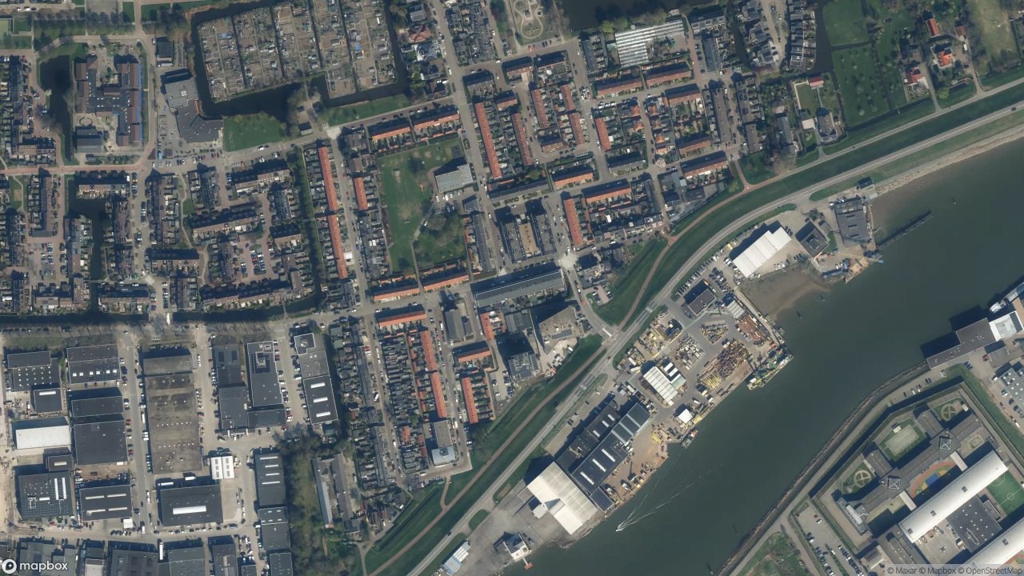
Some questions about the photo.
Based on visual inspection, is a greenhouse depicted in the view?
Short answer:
Yes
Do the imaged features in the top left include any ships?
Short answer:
No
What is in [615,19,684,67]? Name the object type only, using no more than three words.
greenhouse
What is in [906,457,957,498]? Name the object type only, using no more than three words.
sports court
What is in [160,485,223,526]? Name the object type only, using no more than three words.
building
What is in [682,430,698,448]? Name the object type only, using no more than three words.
boat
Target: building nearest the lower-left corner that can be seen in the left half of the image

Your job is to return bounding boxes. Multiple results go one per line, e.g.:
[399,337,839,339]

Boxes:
[19,543,56,576]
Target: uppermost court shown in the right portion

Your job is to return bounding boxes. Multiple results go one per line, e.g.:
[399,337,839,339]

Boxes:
[879,419,926,462]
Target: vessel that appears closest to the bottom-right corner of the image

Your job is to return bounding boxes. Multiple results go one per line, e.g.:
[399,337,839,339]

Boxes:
[989,283,1024,313]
